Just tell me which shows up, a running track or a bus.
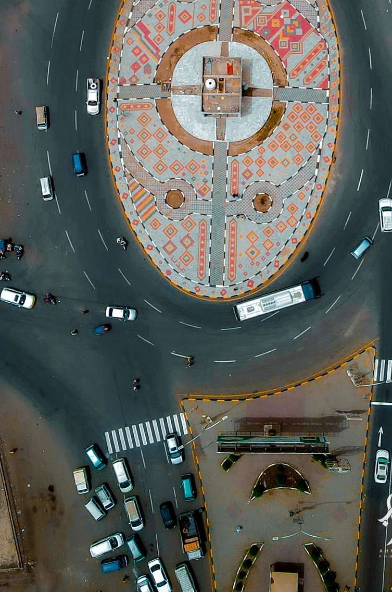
bus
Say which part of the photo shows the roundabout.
top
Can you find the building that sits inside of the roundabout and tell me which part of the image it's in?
top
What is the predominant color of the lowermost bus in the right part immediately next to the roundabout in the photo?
white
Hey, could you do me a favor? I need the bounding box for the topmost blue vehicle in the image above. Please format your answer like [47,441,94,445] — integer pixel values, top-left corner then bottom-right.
[73,151,88,176]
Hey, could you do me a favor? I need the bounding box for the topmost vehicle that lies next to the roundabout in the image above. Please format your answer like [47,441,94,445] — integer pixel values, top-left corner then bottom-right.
[85,78,100,116]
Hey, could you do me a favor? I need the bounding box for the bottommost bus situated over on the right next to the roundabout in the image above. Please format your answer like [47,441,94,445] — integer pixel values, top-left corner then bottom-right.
[232,277,324,324]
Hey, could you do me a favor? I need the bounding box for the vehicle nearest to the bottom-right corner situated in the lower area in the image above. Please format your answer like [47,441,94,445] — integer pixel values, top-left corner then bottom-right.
[375,447,390,484]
